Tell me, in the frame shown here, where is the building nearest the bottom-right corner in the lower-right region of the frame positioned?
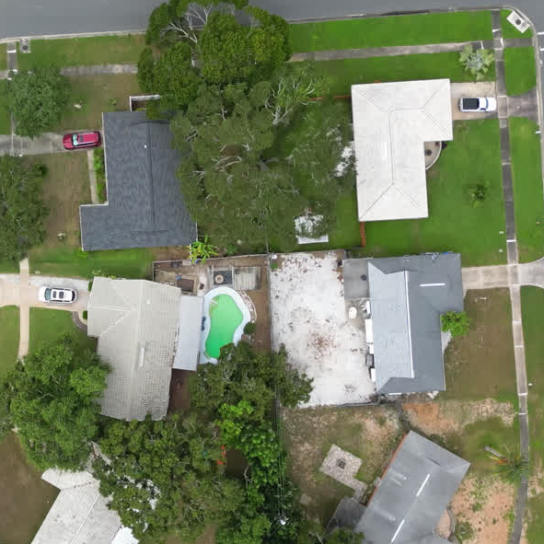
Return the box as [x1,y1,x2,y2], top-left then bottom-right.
[321,430,470,544]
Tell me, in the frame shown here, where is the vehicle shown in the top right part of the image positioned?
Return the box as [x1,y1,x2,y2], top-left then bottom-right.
[457,94,498,113]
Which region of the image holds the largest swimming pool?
center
